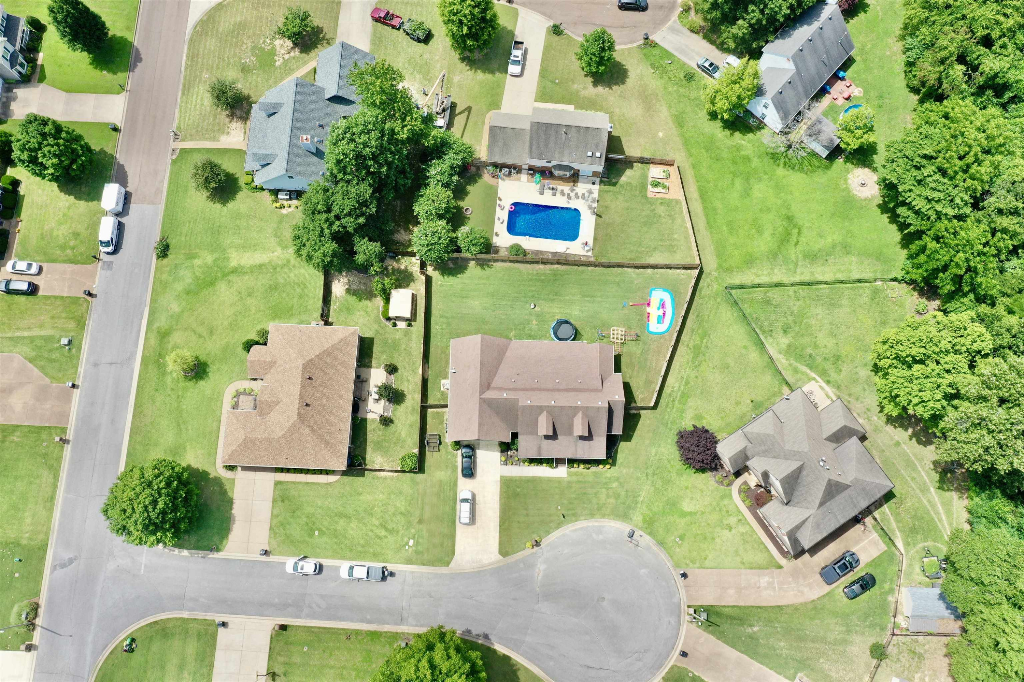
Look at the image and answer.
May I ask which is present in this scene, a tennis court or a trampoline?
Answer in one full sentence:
This aerial view contains a trampoline.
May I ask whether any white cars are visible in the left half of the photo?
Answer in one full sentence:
Yes, a white car shows up in the left half of the photo.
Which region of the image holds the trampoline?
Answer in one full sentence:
Look in the center portion of the view to spot the trampoline.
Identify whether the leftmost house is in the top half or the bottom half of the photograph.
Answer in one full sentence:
You can find the leftmost house in the top half.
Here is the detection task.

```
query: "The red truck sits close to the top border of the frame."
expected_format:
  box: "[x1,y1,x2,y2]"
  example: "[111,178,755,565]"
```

[369,7,402,29]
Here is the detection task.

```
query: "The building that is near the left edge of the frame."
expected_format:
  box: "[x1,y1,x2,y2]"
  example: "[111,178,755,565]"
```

[0,2,37,92]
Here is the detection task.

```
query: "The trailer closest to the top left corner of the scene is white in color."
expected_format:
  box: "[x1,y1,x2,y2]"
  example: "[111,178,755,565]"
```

[101,186,129,220]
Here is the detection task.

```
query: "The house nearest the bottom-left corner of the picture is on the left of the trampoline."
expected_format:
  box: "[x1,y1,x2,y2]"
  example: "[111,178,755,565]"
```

[220,324,360,470]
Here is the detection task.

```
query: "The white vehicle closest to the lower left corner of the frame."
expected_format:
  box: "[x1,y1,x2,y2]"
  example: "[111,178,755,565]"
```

[285,553,321,581]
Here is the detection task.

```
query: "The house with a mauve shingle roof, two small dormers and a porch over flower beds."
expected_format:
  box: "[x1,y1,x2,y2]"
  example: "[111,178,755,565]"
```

[447,334,625,468]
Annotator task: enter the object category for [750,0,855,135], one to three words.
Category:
house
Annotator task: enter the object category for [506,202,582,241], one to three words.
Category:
swimming pool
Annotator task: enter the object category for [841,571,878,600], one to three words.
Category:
car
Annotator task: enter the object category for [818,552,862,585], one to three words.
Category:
truck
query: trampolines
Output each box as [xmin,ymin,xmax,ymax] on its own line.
[550,315,576,341]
